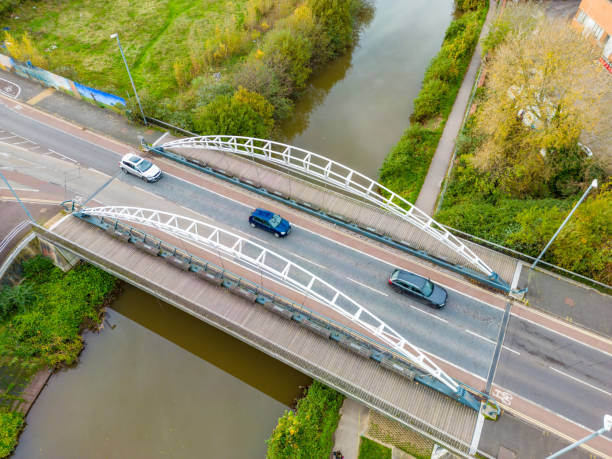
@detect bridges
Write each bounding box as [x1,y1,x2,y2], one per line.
[36,124,530,459]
